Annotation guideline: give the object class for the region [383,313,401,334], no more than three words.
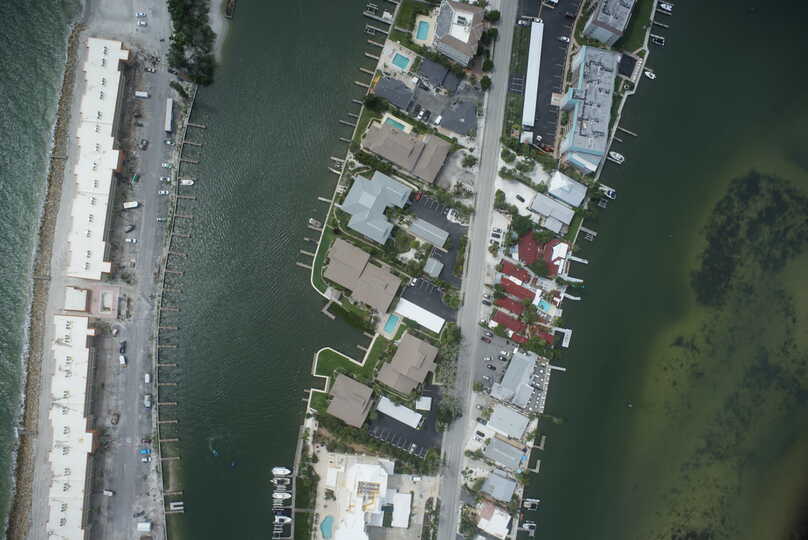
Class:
swimming pool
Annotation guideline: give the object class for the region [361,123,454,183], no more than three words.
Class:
house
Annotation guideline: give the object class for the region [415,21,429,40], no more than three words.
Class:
swimming pool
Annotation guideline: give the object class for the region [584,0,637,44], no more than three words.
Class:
building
